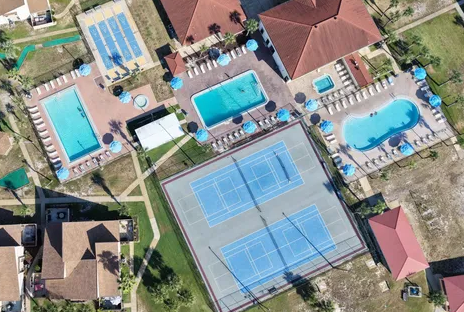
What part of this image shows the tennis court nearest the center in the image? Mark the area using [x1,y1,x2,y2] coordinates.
[181,141,313,228]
